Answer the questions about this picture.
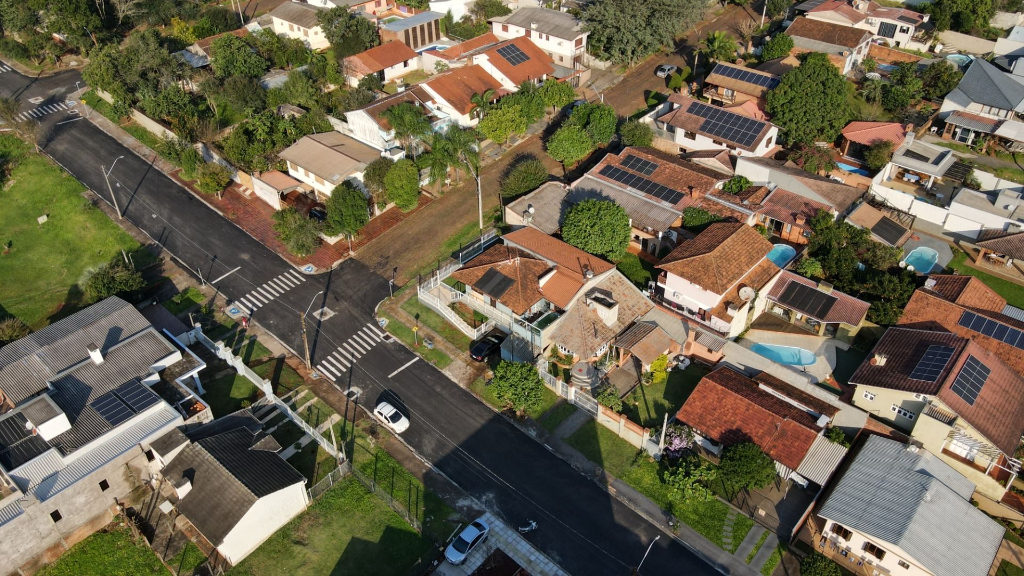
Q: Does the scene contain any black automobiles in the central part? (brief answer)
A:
Yes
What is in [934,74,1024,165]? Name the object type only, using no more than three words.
house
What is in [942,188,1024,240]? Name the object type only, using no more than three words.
house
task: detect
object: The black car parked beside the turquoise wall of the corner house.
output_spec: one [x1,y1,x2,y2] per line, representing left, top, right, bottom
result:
[466,333,506,364]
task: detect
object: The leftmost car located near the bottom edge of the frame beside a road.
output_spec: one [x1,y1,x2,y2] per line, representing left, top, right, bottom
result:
[440,513,494,570]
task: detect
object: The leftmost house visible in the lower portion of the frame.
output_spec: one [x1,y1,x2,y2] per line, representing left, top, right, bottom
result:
[0,296,216,576]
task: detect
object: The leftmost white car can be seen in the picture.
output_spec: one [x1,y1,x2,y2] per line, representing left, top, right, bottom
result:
[367,397,411,436]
